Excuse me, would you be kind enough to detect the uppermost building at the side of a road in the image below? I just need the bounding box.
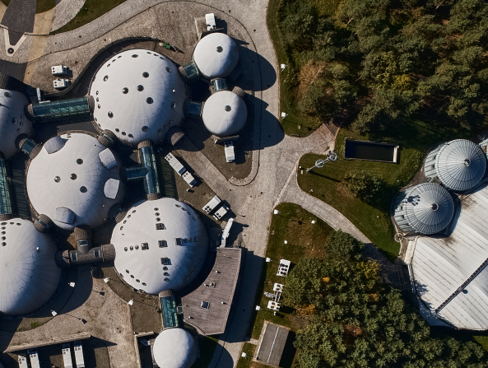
[193,31,241,78]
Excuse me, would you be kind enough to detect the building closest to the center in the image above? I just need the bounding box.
[201,86,249,138]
